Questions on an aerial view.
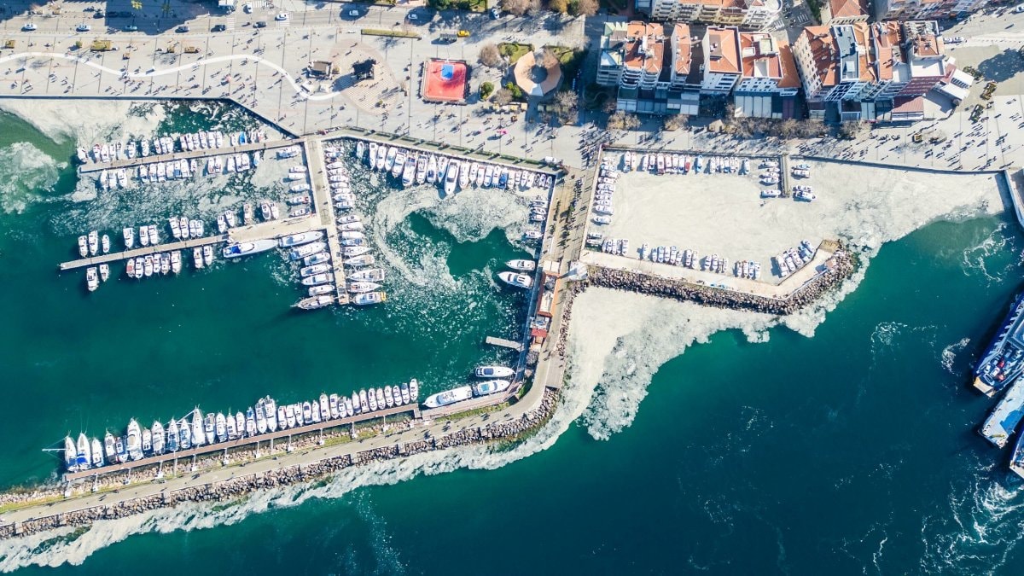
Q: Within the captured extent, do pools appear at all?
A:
No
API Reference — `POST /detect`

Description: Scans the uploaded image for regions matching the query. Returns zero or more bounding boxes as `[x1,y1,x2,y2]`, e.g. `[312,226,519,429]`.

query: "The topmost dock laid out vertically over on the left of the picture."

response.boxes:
[305,138,337,228]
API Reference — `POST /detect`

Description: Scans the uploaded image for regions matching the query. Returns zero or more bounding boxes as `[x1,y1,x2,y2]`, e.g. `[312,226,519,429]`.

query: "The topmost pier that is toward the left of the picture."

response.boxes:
[79,139,304,173]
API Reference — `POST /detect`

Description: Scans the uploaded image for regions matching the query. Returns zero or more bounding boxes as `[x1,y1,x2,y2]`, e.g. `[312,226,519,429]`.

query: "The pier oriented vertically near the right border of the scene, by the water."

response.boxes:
[998,170,1024,237]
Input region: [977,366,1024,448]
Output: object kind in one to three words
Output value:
ship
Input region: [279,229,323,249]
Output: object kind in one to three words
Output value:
boat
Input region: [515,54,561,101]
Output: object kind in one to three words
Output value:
building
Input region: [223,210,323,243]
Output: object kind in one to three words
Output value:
pier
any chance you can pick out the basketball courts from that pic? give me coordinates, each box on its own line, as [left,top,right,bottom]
[422,56,468,101]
